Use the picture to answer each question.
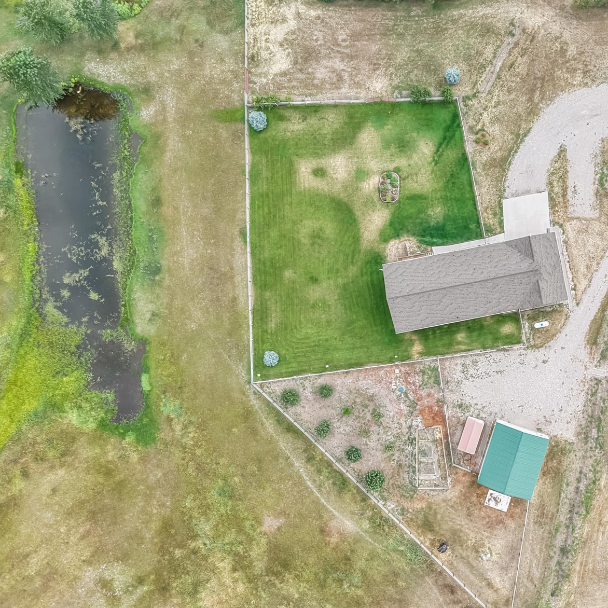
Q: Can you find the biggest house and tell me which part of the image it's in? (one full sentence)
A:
The biggest house is located in the right region of the scene.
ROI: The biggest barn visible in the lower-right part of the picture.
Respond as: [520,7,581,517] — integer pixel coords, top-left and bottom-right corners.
[476,420,550,500]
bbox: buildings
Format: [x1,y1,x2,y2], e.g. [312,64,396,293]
[476,420,550,500]
[458,417,485,454]
[378,228,569,334]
